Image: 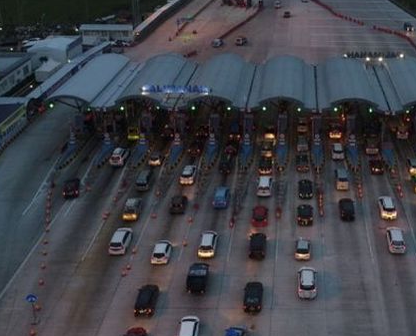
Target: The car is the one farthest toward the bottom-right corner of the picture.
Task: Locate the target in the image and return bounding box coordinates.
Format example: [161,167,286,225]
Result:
[386,228,408,255]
